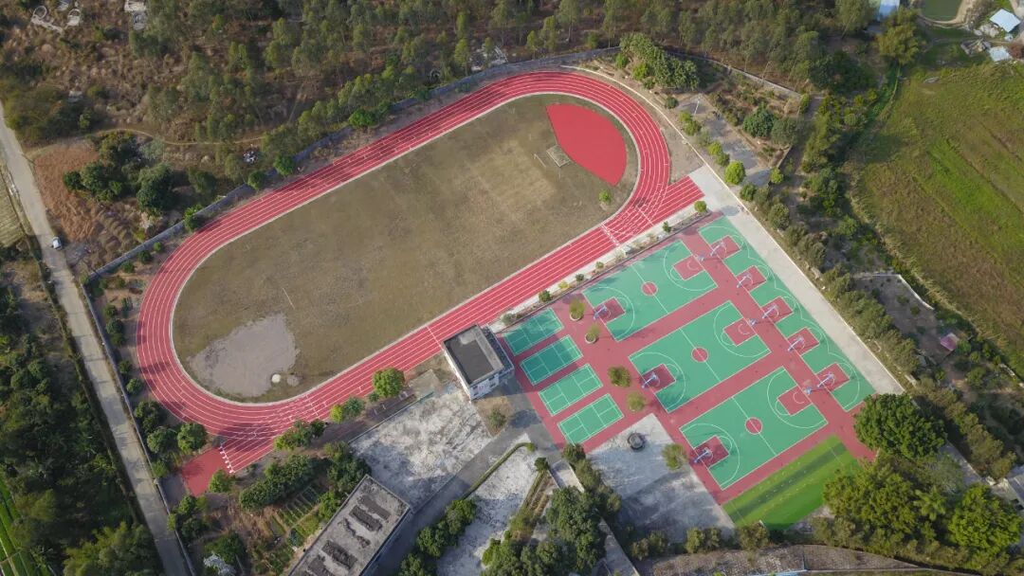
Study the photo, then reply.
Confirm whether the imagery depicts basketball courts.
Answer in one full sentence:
Yes, there's a basketball court here.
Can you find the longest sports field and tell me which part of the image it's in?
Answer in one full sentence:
The longest sports field is located in the center region of the scene.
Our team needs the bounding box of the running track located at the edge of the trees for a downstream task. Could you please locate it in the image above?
[139,74,703,499]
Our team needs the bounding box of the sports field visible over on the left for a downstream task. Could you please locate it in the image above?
[172,94,637,403]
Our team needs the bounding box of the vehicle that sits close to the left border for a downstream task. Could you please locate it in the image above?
[51,235,64,251]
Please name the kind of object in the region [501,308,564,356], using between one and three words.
sports court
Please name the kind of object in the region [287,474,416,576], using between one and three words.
building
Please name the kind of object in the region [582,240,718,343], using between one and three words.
basketball court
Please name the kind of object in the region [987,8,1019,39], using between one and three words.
shed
